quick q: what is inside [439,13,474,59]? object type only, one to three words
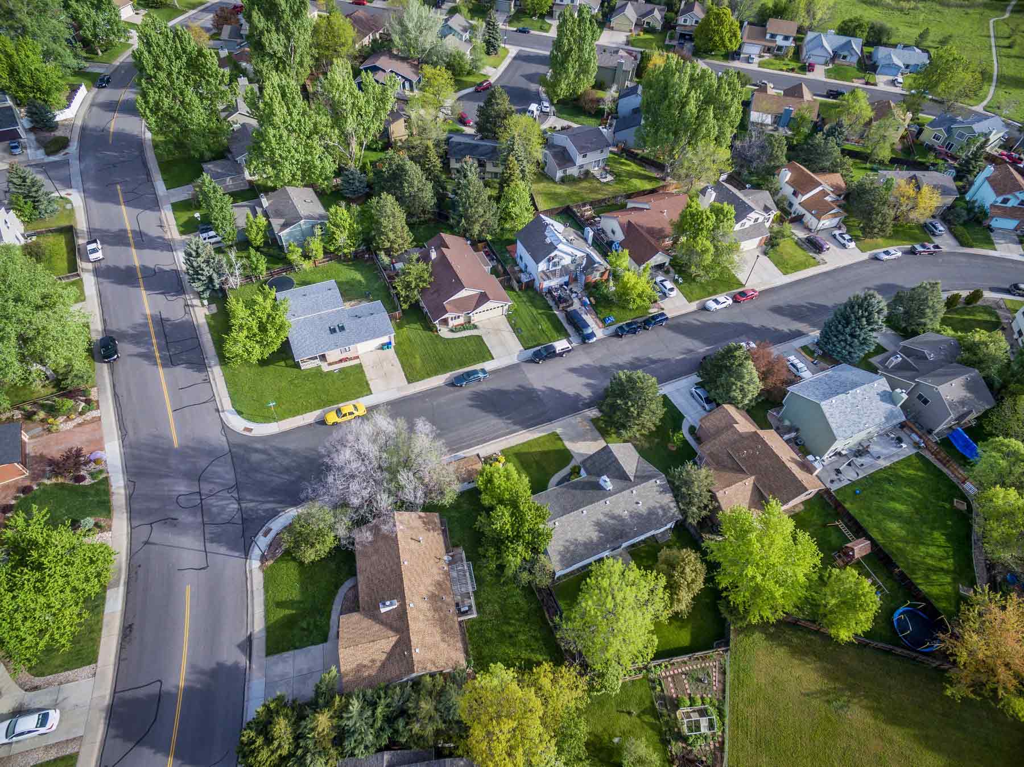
house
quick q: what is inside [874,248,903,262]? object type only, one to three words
car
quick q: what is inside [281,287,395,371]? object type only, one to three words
house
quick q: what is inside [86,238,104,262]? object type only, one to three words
vehicle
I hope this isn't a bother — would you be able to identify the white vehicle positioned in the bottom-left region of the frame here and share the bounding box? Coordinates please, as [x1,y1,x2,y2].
[0,704,64,750]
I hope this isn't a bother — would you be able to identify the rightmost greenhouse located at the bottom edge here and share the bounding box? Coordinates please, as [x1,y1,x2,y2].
[676,705,716,741]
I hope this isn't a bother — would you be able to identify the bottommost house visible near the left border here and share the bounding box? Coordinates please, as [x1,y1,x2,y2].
[0,421,46,470]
